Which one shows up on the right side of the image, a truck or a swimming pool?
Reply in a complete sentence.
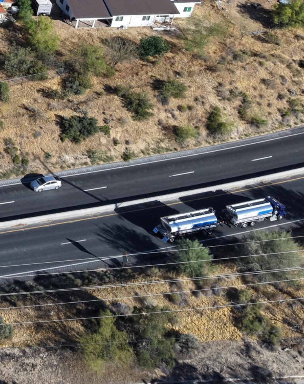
Looking on the right side of the image, you will find a truck.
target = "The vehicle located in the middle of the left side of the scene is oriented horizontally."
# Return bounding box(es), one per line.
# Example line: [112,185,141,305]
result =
[29,174,63,191]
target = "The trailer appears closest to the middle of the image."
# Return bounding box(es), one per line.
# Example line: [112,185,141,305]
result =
[150,202,222,240]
